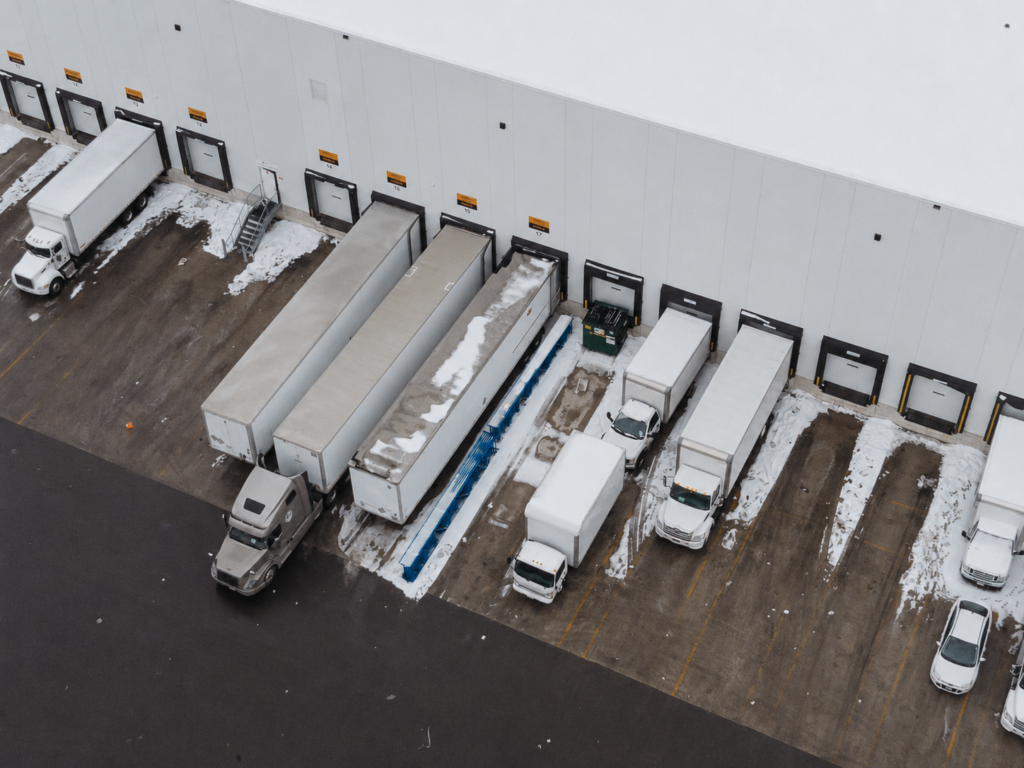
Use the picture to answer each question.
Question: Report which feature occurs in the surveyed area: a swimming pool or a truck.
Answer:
truck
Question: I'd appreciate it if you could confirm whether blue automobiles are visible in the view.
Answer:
No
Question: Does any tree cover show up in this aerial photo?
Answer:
No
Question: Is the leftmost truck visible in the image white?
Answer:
Yes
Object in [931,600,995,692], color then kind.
white car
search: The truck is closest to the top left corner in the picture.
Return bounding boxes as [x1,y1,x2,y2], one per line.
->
[8,118,162,298]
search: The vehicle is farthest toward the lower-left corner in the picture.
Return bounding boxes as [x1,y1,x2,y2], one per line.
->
[215,452,351,598]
